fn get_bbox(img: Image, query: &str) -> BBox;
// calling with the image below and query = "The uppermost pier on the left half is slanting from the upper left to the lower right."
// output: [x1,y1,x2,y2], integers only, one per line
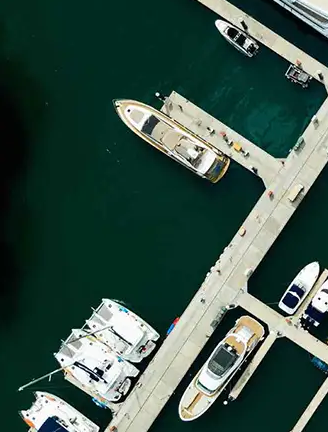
[64,371,121,412]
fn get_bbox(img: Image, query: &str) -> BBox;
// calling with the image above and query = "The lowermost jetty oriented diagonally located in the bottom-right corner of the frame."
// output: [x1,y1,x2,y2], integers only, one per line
[289,374,328,432]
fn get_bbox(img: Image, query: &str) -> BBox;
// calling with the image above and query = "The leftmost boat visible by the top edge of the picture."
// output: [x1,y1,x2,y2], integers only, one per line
[216,21,259,58]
